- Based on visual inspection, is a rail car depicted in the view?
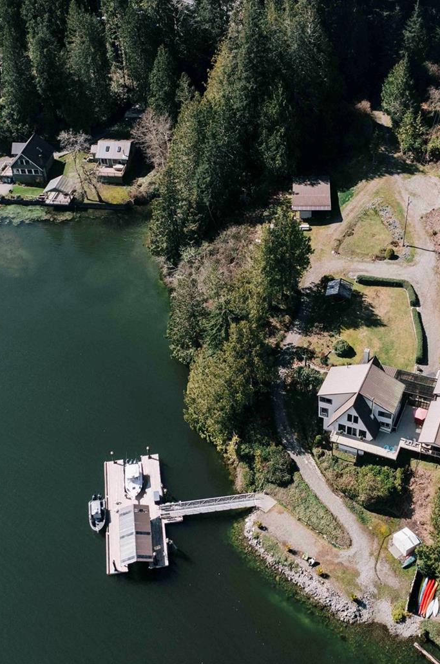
No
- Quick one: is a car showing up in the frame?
No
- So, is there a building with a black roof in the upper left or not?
Yes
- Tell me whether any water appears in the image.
Yes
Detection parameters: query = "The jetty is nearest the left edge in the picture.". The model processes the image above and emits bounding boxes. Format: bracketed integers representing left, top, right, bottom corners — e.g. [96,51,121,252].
[104,454,183,575]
